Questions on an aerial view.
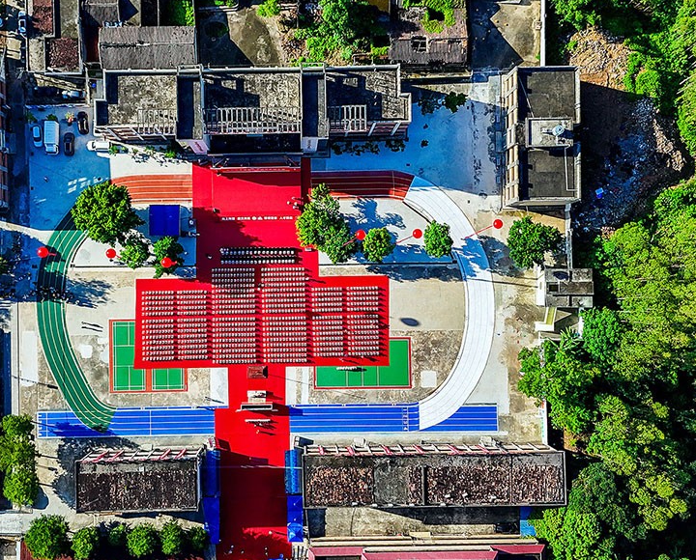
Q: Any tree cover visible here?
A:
Yes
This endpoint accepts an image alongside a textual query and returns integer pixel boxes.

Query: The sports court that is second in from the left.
[149,368,188,392]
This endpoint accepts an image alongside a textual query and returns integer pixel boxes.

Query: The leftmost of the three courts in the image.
[109,319,149,392]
